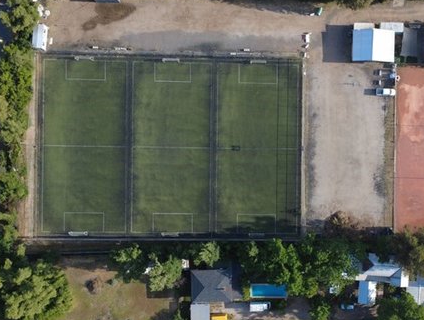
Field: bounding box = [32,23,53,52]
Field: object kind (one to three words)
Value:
shed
